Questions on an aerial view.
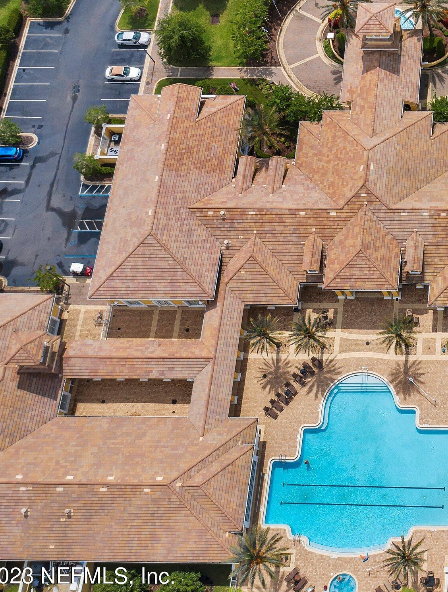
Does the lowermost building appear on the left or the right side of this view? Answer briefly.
left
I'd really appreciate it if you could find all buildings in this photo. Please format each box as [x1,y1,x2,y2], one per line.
[87,2,448,312]
[0,294,265,564]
